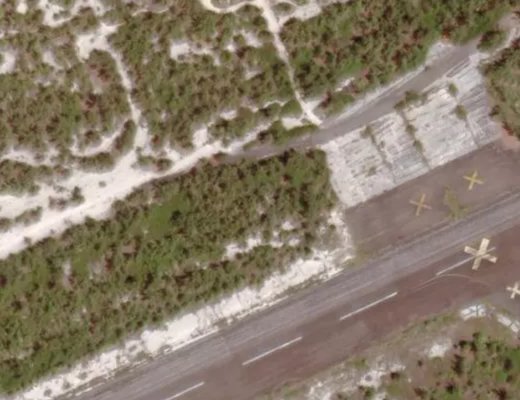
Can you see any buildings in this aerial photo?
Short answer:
No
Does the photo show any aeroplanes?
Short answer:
No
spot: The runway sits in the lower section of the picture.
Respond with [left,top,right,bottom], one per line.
[60,187,520,400]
